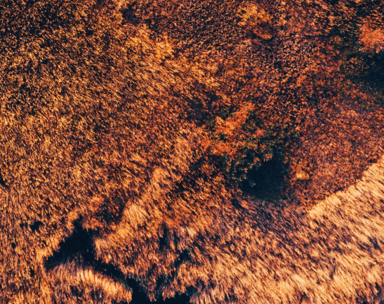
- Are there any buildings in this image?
No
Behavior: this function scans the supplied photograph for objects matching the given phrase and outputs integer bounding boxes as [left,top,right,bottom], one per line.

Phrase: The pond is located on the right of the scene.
[238,144,290,201]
